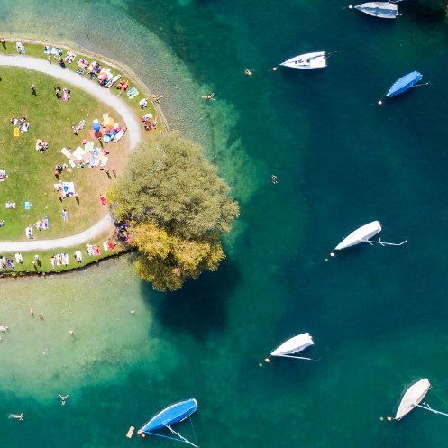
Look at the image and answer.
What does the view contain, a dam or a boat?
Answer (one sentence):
The one in the frame is a boat.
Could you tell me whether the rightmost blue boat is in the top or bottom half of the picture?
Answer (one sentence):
The top half of the photo is where the rightmost blue boat is.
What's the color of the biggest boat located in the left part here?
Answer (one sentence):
From above, the biggest boat located in the left part appears blue.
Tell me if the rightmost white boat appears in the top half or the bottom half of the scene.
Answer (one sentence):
Seen from above, the rightmost white boat lies in the bottom half of the view.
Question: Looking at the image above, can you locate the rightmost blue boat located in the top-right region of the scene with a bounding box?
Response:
[386,68,429,95]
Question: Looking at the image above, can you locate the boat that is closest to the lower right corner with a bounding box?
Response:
[394,377,448,419]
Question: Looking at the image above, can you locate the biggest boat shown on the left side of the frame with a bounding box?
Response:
[142,396,204,442]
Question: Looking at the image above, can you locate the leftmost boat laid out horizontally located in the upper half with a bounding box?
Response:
[280,52,339,70]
